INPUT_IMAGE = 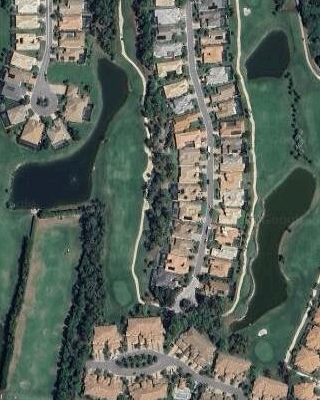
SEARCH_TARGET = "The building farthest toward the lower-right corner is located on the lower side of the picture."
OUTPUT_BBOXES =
[295,382,315,400]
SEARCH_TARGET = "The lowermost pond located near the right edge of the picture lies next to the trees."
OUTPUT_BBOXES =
[231,168,316,331]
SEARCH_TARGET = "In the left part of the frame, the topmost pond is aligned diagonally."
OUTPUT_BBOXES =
[10,58,128,210]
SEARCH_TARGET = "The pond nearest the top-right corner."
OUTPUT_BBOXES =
[246,30,290,79]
